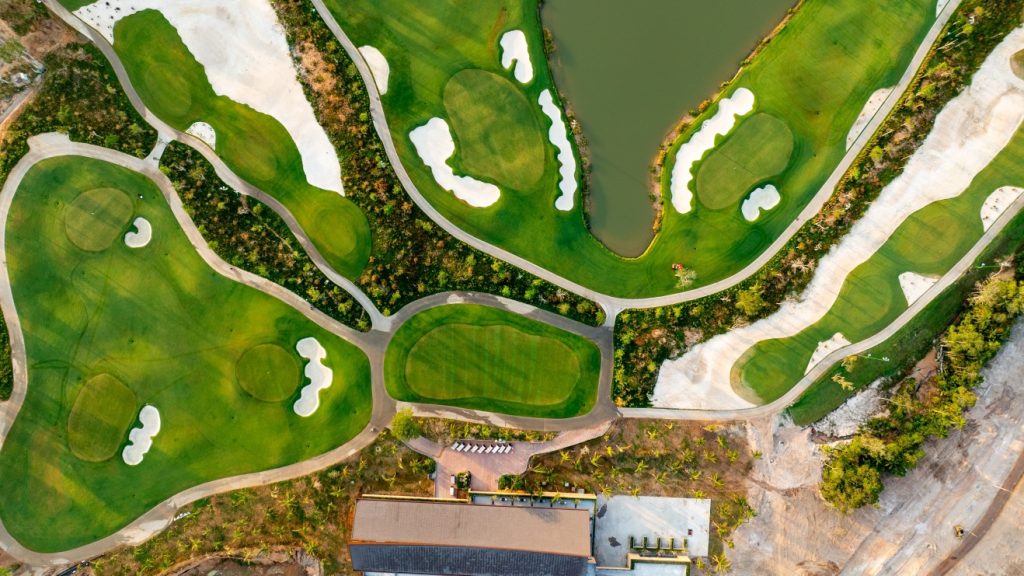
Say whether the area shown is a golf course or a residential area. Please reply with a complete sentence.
The picture captures a golf course.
